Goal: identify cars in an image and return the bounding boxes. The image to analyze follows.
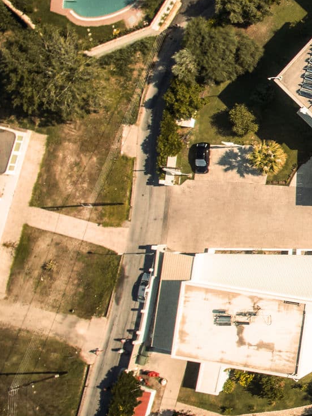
[136,271,152,302]
[194,142,212,174]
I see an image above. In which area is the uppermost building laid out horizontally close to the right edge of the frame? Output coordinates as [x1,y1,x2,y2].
[191,253,312,303]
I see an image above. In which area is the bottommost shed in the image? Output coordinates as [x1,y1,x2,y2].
[132,384,165,416]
